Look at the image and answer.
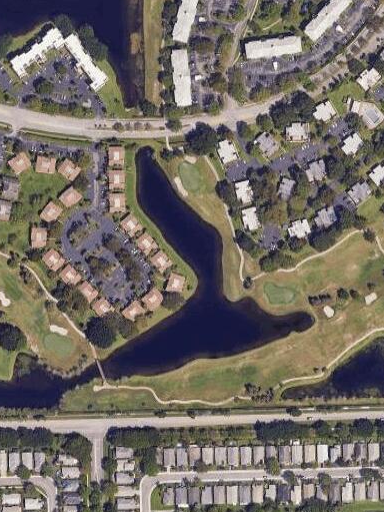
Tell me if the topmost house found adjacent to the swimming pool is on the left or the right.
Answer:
right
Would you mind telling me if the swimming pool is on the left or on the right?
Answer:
right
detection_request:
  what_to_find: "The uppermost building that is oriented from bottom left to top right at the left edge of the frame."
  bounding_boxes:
[9,28,64,77]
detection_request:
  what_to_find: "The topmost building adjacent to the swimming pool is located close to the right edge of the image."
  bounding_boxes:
[357,69,382,92]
